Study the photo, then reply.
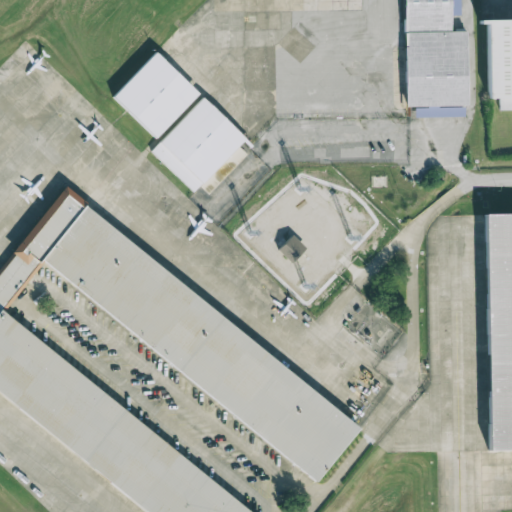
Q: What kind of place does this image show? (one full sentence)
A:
The picture captures an airport.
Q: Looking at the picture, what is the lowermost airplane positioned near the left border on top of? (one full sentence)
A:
You can see the lowermost airplane positioned near the left border positioned on the apron.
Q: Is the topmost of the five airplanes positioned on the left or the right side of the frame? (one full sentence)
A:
The topmost of the five airplanes is on the left side of the image.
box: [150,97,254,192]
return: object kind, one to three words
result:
hangar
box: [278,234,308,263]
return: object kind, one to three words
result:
shed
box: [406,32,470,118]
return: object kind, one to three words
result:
building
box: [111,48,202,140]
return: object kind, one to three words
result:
hangar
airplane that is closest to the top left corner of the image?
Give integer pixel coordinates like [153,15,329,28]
[27,48,53,74]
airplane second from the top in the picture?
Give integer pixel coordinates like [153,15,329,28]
[80,120,105,144]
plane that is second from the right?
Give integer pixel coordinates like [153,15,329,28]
[189,213,216,240]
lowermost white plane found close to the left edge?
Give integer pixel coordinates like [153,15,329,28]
[20,178,44,202]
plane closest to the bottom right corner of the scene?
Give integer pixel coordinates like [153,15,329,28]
[275,296,300,318]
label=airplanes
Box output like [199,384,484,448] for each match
[20,178,44,202]
[275,296,300,318]
[80,120,105,144]
[189,213,216,240]
[27,48,53,74]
